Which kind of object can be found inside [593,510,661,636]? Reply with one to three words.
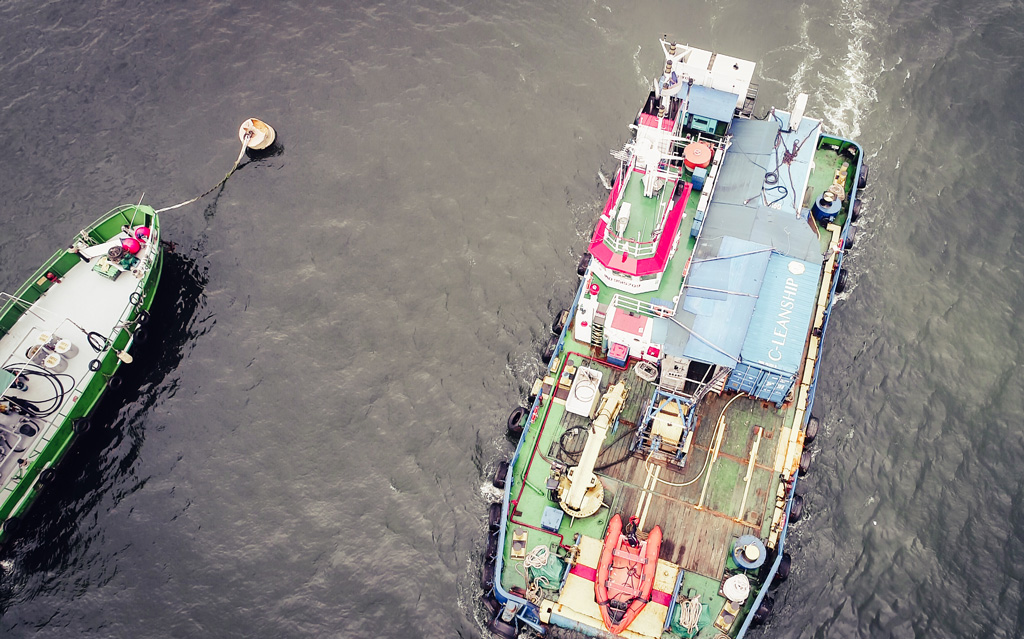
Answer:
boat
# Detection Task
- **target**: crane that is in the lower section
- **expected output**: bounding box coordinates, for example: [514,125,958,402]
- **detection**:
[552,373,635,524]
